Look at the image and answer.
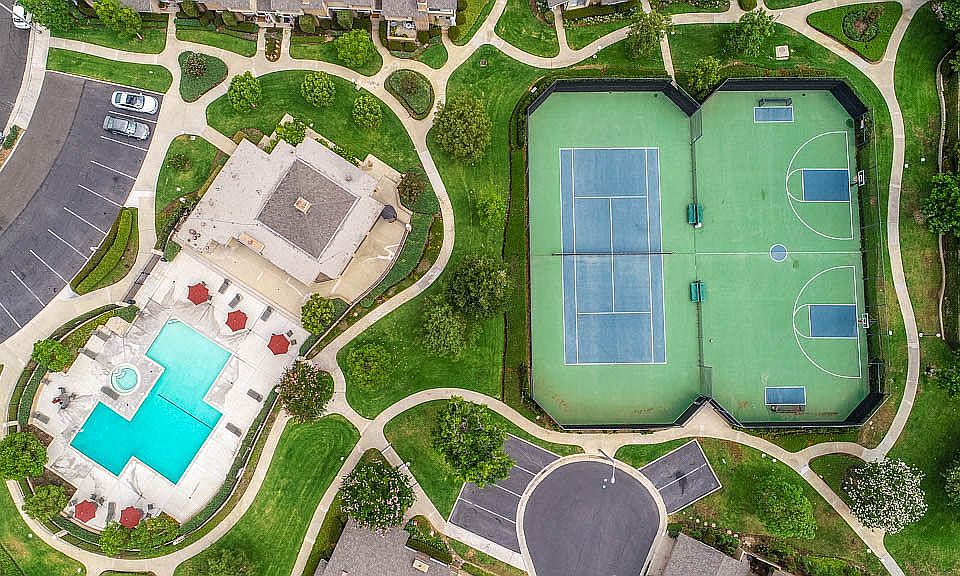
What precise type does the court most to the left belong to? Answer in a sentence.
I'd say the court most to the left is a tennis court.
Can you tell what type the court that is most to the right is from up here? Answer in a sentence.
It looks like the court that is most to the right is a basketball court.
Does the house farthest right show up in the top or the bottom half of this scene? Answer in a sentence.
The house farthest right sits in the bottom half of the picture.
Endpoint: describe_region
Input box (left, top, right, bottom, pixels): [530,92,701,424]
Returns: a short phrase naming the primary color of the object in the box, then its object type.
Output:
green tennis court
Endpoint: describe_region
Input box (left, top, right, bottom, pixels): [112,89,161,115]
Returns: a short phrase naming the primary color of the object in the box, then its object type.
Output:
white car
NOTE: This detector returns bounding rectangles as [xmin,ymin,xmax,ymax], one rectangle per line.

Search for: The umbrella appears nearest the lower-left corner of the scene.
[75,498,102,523]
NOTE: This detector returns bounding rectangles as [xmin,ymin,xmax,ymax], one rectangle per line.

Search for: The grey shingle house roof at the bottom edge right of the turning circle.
[662,533,752,576]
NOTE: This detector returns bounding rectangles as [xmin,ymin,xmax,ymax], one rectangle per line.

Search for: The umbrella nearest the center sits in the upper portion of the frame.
[381,205,398,220]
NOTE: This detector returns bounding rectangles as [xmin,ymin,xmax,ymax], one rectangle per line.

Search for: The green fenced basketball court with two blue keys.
[690,91,870,423]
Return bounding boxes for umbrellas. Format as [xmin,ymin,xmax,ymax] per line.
[75,498,102,523]
[188,281,211,305]
[381,205,398,220]
[267,332,291,356]
[119,506,145,531]
[224,309,248,332]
